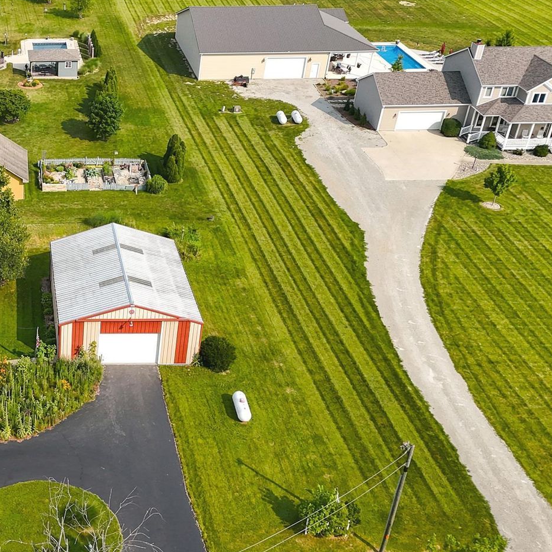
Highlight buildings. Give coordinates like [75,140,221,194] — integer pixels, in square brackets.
[0,134,28,204]
[172,2,383,81]
[47,224,207,366]
[27,49,81,78]
[347,36,552,148]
